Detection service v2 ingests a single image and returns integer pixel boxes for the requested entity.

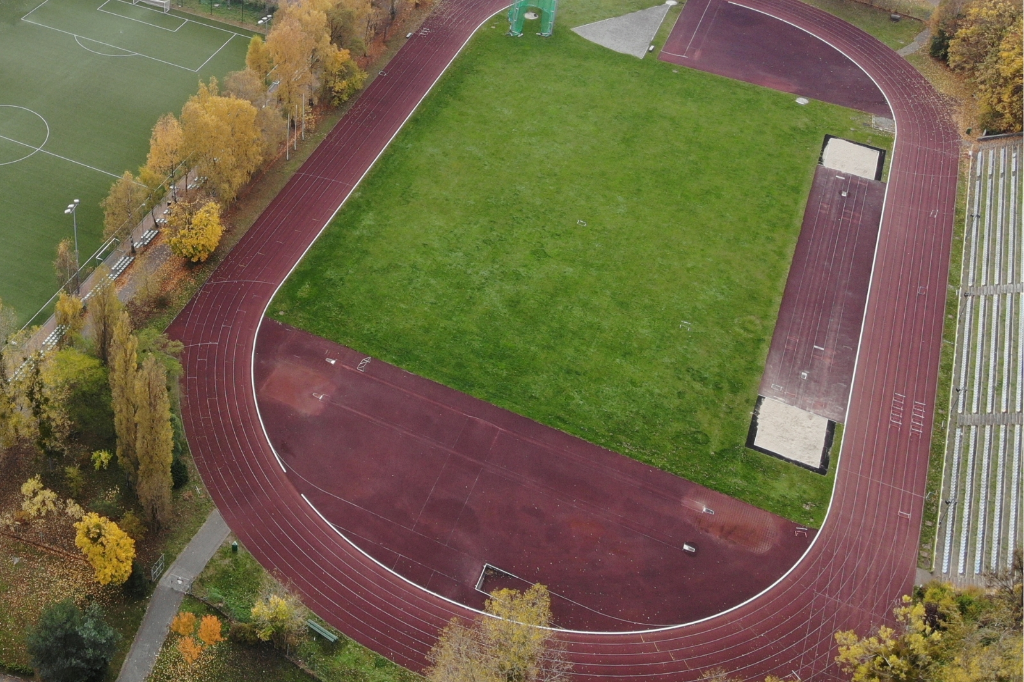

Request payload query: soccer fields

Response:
[0,0,304,356]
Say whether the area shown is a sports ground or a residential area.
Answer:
sports ground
